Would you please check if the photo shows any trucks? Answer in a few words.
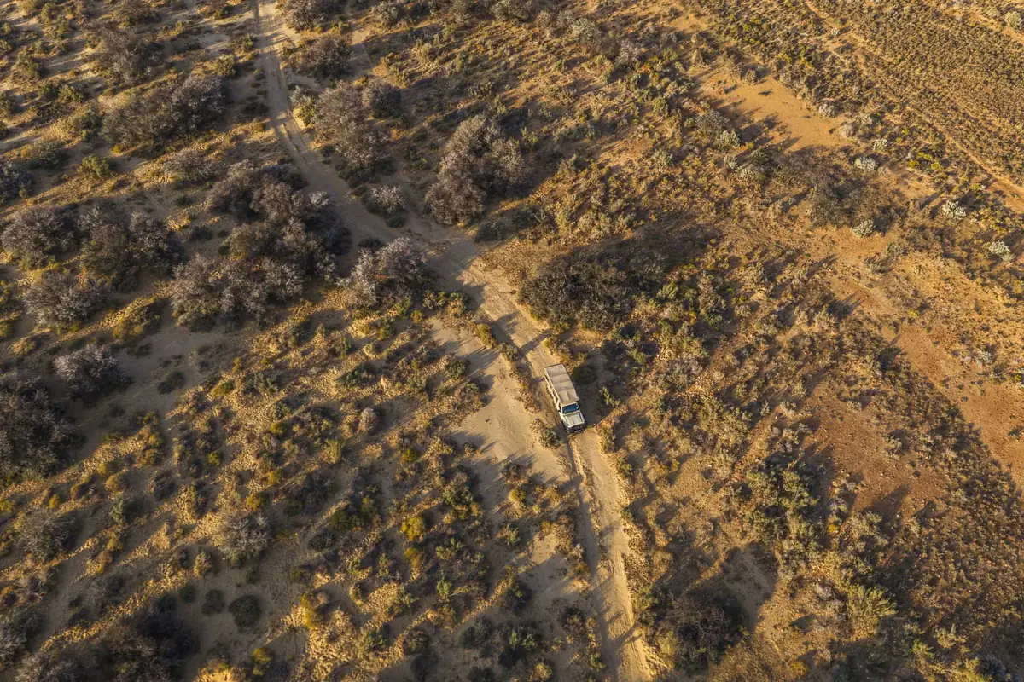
Yes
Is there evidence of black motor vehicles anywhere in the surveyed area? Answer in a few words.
No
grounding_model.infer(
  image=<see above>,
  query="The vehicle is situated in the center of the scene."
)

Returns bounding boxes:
[545,363,586,431]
